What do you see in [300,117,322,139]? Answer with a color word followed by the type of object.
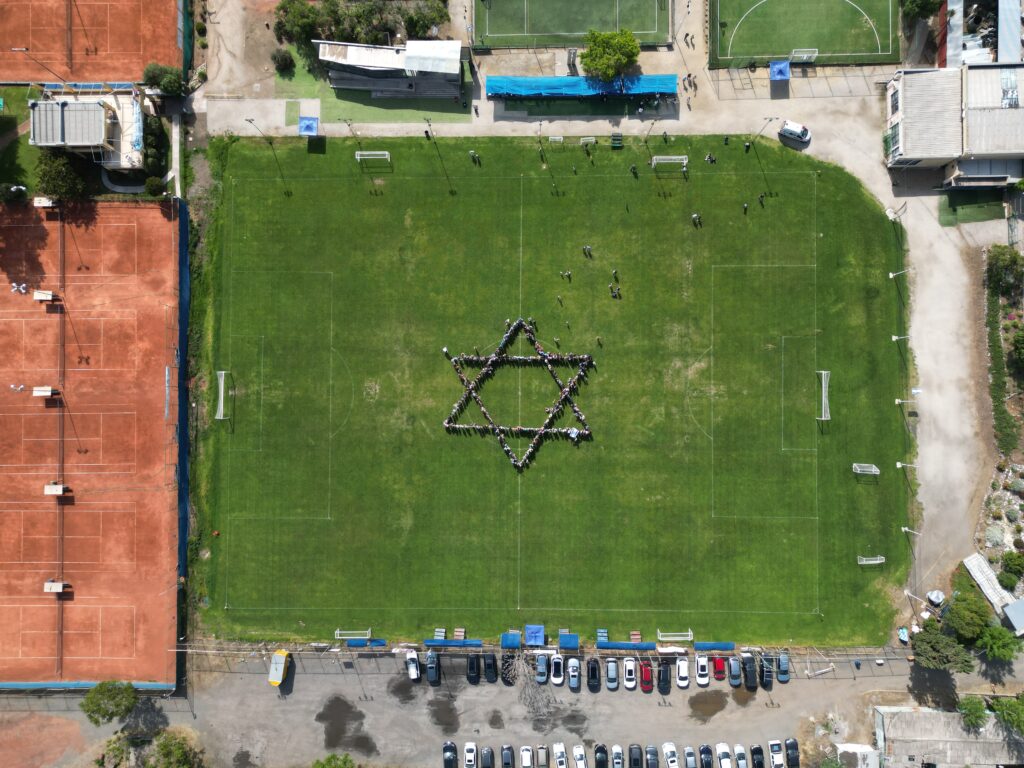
blue gazebo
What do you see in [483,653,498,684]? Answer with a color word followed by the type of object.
black car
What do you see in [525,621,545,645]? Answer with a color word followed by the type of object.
blue gazebo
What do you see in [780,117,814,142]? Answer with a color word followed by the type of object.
white vehicle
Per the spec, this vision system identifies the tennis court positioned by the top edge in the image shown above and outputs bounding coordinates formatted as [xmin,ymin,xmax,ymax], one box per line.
[0,0,190,86]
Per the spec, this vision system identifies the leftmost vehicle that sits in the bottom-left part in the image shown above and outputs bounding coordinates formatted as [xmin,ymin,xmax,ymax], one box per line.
[265,650,288,689]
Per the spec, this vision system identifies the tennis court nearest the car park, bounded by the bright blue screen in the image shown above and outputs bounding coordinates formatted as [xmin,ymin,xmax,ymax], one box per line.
[0,581,179,685]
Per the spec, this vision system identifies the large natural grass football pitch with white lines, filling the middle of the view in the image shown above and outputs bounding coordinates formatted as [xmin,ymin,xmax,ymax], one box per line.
[199,133,915,645]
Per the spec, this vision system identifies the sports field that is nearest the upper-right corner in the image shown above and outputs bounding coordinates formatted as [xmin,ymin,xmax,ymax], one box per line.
[710,0,899,67]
